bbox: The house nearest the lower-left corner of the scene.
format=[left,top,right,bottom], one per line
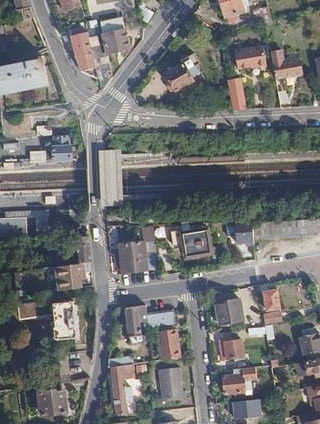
[37,387,69,417]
